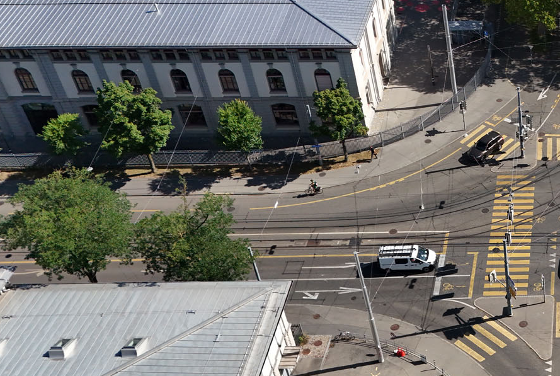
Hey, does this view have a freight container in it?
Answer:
No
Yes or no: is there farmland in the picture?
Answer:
No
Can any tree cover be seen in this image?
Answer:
Yes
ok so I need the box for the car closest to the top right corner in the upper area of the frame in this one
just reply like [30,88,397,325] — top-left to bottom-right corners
[463,129,502,164]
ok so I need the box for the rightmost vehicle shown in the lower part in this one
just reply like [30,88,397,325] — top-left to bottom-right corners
[377,245,437,274]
